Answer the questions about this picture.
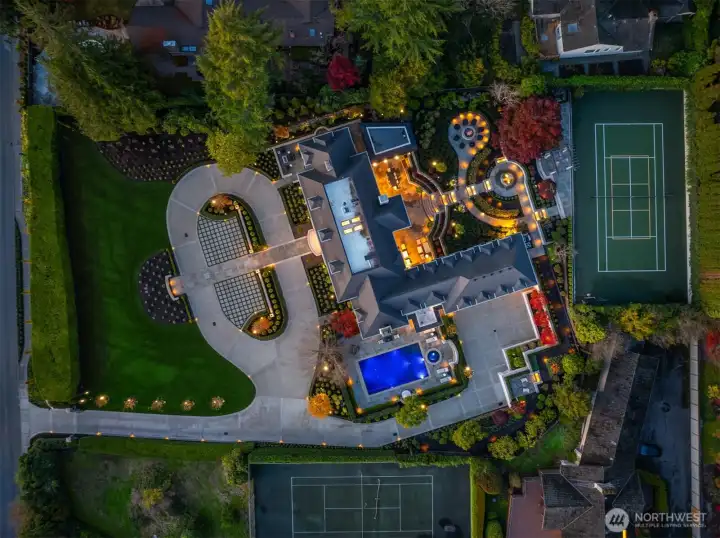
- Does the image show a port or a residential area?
residential area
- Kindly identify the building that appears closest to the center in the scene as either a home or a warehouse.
home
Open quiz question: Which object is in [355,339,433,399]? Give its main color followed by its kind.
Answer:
blue swimming pool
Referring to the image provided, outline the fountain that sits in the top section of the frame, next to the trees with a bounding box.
[497,170,515,188]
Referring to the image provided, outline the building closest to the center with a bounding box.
[297,122,539,340]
